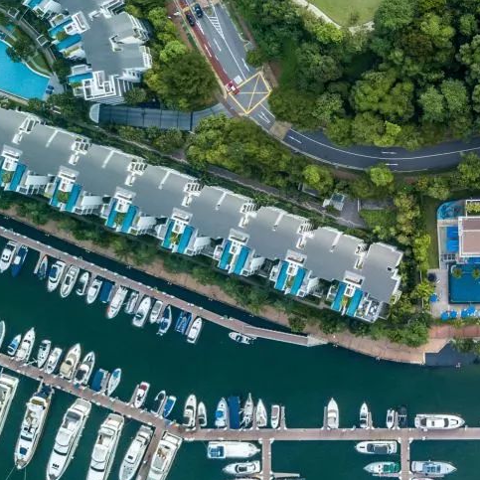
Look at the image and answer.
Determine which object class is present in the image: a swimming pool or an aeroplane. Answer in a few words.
swimming pool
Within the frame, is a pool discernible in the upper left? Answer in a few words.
Yes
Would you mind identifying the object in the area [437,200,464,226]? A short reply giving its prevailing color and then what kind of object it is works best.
blue swimming pool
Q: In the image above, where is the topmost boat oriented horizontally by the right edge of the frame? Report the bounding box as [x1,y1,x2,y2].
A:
[413,413,463,429]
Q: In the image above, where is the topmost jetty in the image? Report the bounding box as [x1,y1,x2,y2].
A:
[0,226,309,346]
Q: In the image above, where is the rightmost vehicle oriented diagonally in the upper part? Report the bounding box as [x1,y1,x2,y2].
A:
[224,79,238,94]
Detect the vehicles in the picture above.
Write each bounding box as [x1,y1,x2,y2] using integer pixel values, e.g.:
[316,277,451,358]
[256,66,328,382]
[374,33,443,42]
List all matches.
[194,3,202,17]
[224,79,238,94]
[186,13,195,26]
